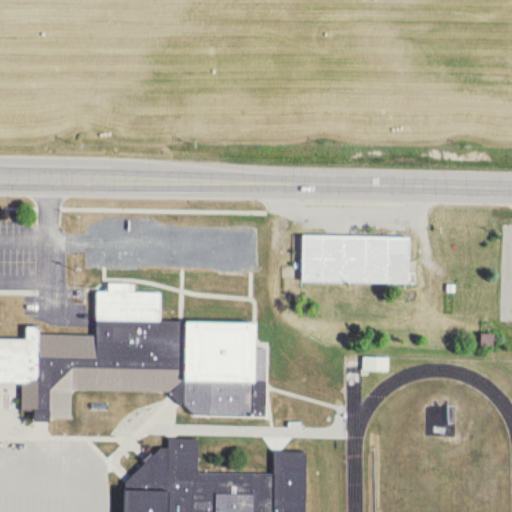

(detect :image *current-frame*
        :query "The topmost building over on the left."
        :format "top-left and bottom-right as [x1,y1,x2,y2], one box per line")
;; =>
[0,284,266,422]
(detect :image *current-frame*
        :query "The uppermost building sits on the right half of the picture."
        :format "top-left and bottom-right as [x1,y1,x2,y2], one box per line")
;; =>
[302,234,412,285]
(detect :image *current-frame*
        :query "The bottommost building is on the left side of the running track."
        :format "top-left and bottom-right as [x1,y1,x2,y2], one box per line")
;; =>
[124,438,306,512]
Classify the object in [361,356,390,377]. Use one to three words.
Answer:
shed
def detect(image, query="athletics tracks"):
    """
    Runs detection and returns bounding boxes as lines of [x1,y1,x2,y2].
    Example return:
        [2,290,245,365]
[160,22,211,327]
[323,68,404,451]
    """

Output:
[347,363,512,512]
